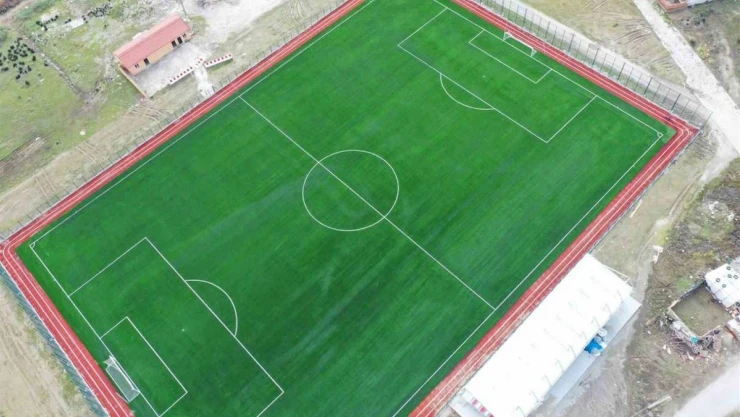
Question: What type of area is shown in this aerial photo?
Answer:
sports ground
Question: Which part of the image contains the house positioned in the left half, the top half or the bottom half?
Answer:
top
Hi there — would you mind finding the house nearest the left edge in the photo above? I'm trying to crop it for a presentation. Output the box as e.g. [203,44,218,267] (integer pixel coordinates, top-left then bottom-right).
[113,15,192,74]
